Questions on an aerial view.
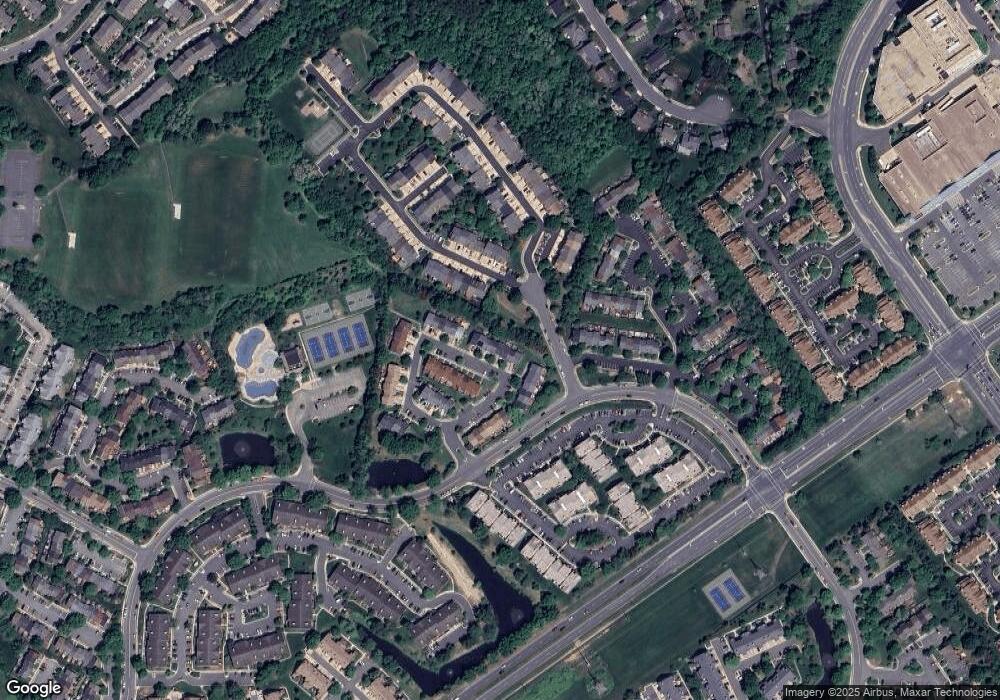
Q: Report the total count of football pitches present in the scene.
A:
2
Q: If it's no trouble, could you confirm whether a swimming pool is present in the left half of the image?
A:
Yes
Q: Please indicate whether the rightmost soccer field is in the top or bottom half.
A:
top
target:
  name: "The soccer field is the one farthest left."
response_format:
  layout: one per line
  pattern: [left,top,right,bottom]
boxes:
[79,191,165,299]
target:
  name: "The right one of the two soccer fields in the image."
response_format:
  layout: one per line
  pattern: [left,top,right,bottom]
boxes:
[182,150,254,287]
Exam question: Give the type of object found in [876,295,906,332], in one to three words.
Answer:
building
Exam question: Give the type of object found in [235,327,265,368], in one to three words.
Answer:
swimming pool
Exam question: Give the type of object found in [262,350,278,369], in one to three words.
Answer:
swimming pool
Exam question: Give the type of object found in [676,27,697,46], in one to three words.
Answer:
house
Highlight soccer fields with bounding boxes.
[182,150,254,287]
[79,191,165,299]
